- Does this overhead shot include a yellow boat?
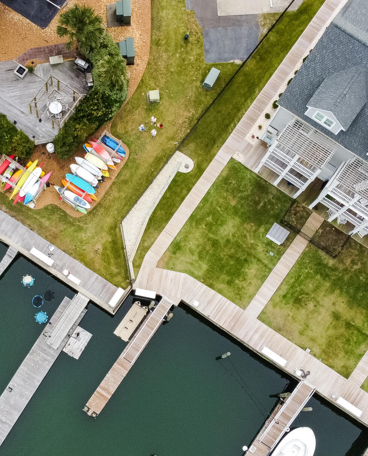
Yes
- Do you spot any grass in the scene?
Yes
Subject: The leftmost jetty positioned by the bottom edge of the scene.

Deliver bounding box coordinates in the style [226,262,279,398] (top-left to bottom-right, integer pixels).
[0,297,87,446]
